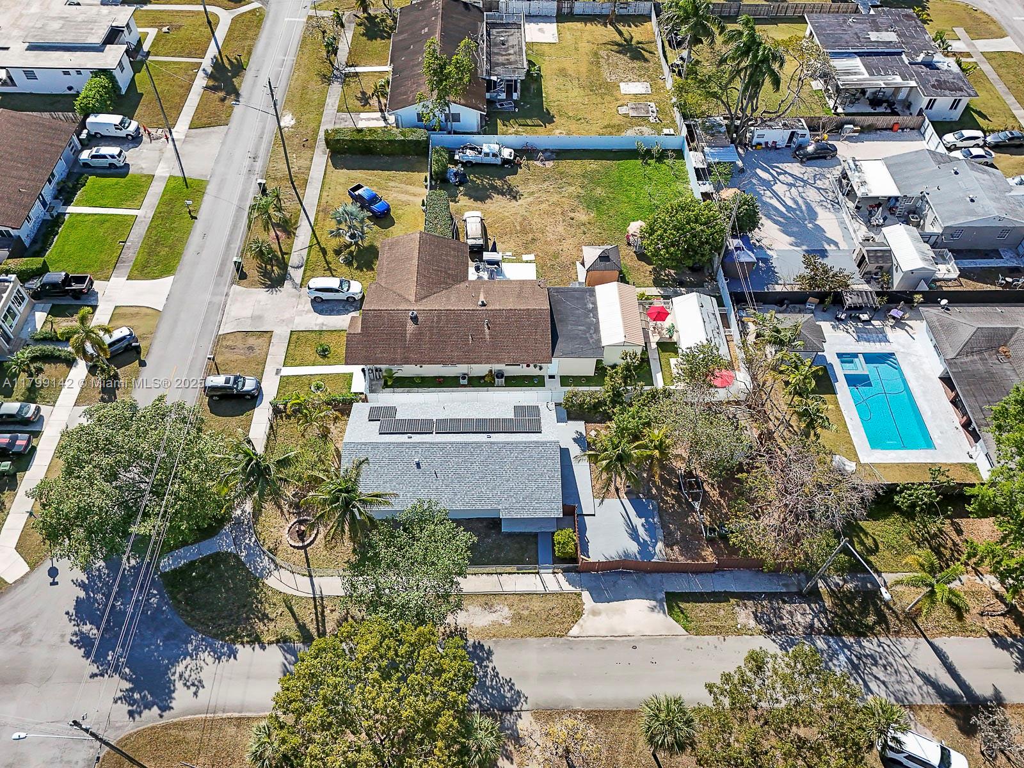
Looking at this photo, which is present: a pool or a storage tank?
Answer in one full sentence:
The image shows a pool.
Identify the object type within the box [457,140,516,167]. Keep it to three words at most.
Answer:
truck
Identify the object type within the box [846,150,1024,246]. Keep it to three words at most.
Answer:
house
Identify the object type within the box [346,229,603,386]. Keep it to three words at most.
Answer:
house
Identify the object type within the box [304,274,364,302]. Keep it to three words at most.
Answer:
car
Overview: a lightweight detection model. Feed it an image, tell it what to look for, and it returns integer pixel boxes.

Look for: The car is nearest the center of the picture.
[459,207,484,244]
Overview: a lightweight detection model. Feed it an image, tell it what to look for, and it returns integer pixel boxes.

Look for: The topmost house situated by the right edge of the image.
[803,5,979,119]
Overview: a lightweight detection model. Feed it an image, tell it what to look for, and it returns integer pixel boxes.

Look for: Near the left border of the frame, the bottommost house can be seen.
[0,274,34,358]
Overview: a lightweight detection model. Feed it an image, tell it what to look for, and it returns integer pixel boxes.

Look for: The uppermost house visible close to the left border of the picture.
[0,0,145,94]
